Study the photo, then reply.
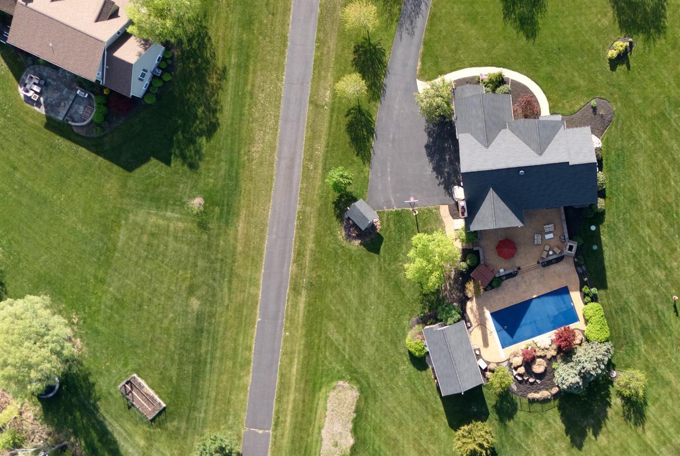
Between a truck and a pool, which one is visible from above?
pool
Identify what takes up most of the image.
grass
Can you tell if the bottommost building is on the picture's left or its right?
right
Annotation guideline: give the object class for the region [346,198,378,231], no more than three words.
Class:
shed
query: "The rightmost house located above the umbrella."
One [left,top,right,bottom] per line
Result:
[450,83,598,232]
